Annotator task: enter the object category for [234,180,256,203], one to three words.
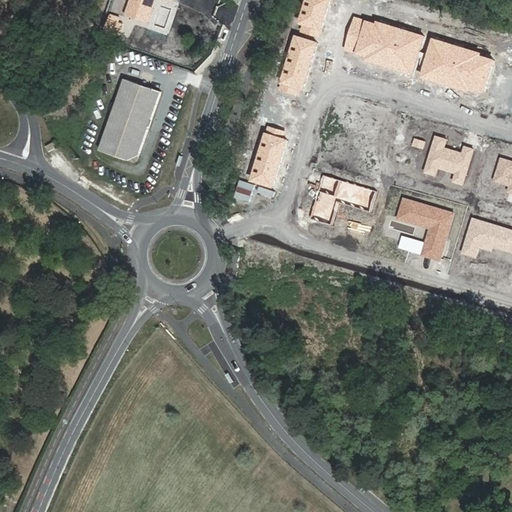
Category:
shed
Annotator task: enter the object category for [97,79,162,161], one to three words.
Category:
building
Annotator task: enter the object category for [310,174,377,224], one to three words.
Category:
house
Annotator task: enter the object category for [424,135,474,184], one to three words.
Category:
house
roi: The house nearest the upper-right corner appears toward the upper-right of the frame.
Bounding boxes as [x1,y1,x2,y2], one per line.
[420,38,495,93]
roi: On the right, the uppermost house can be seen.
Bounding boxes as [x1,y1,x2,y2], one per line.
[297,0,330,37]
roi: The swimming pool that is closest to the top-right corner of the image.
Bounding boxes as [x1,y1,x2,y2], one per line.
[390,220,415,234]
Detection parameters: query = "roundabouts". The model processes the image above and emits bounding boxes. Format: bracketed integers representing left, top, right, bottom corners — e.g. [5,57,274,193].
[112,184,223,326]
